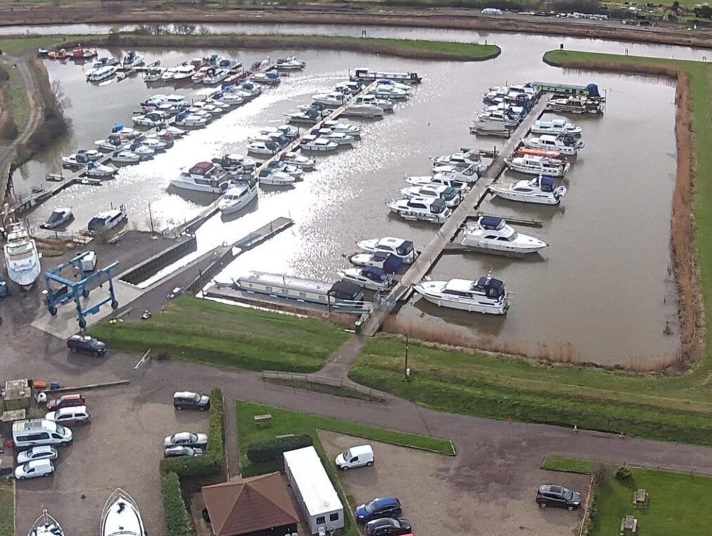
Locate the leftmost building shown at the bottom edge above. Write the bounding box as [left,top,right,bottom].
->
[199,471,300,536]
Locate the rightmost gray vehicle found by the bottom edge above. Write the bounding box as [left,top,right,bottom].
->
[535,485,584,514]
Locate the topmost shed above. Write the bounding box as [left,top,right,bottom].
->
[1,376,29,408]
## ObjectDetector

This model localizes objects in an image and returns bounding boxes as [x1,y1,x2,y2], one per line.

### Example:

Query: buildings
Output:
[282,445,344,536]
[1,376,29,408]
[199,471,300,536]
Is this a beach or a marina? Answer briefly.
marina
